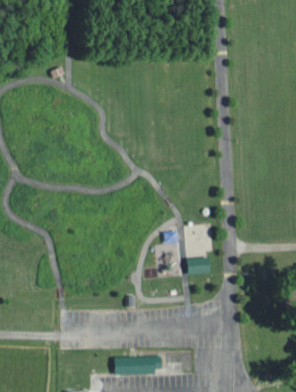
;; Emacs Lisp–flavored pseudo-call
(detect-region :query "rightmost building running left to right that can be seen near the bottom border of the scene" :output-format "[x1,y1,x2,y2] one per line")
[114,357,162,374]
